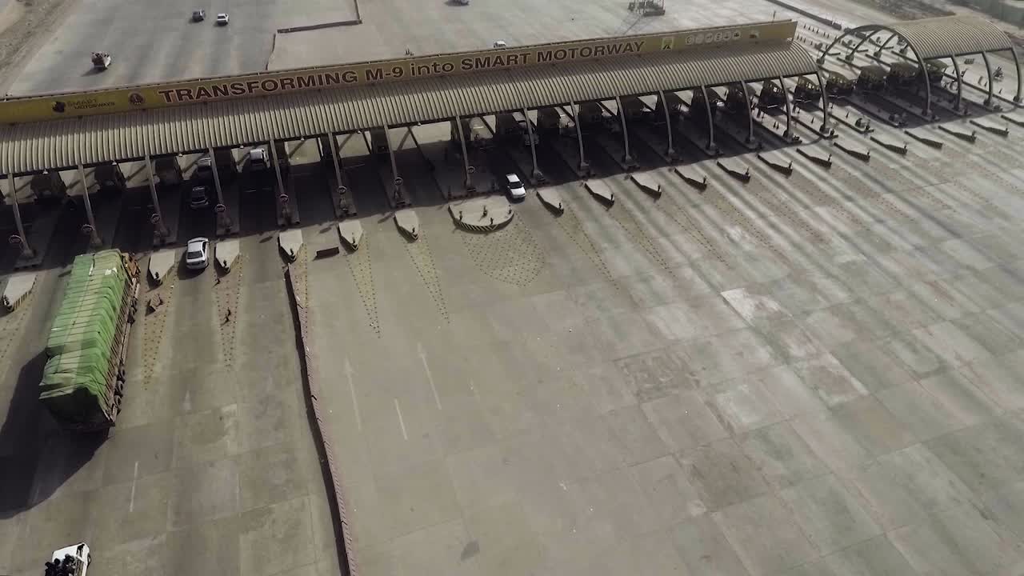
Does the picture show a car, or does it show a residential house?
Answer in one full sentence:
Of the two, only a car appears.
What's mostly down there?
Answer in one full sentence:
The bulk of the photo consists of paved ground.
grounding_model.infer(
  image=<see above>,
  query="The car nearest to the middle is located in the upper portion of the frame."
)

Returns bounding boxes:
[503,171,528,196]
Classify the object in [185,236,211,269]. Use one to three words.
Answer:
car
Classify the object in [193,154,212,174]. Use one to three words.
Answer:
car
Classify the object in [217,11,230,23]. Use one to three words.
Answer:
vehicle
